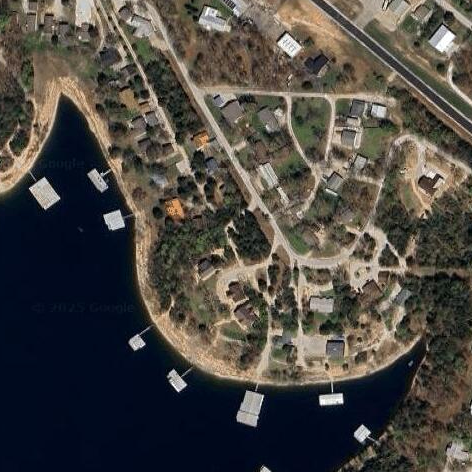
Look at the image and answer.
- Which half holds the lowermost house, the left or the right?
right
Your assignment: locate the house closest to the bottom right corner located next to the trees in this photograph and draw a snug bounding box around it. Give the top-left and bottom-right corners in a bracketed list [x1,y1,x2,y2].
[447,441,470,460]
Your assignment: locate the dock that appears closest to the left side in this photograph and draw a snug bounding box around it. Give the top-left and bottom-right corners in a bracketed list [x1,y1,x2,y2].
[28,171,61,210]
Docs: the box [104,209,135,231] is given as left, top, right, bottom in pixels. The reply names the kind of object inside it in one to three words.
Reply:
pier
